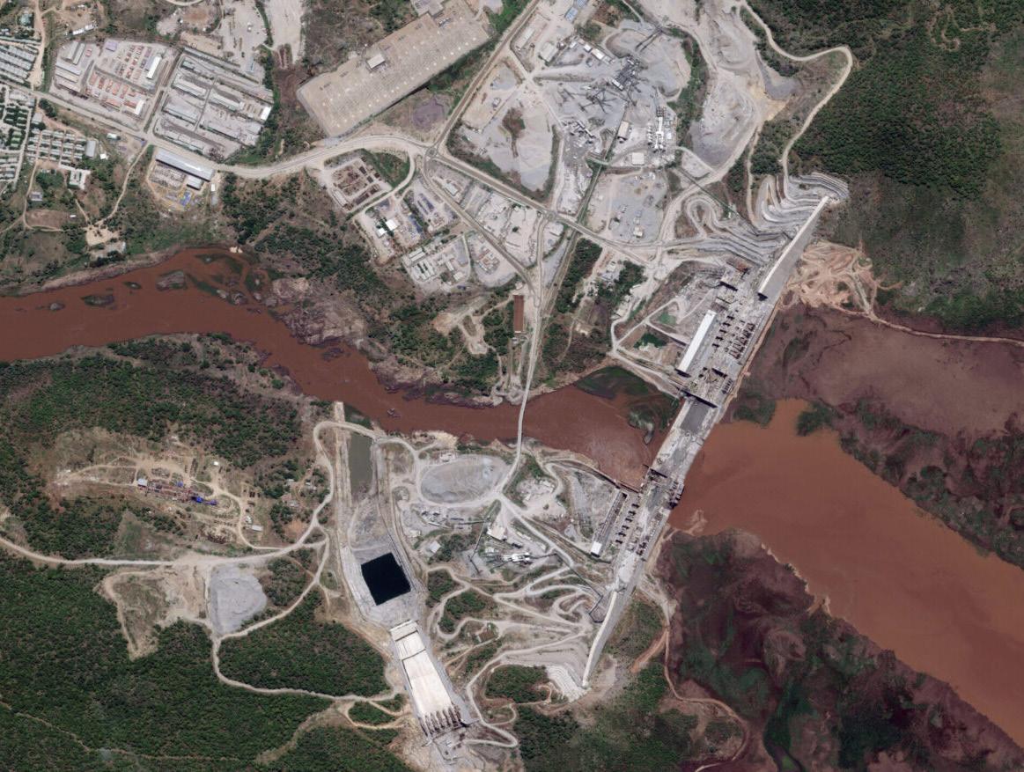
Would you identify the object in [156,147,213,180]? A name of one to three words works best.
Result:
building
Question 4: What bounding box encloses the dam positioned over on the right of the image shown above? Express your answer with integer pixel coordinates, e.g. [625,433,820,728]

[583,195,830,689]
